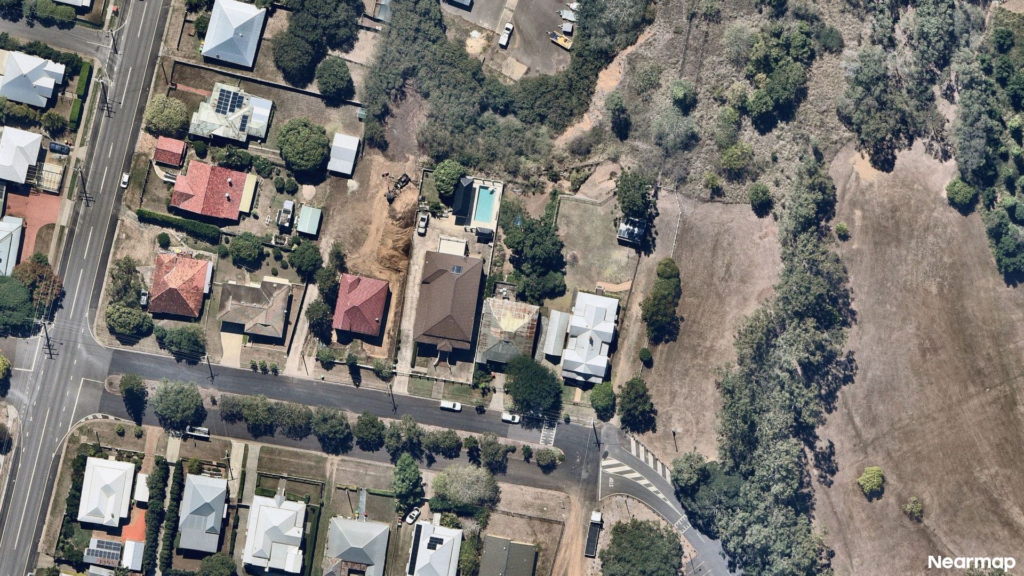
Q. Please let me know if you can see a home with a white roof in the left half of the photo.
Yes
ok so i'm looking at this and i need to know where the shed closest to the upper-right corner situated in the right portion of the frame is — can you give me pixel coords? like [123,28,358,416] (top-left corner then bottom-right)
[617,216,648,244]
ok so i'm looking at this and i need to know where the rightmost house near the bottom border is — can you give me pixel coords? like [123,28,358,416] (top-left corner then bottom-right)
[478,534,536,576]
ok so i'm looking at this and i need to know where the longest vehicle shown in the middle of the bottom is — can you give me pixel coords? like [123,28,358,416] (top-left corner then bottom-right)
[584,511,601,556]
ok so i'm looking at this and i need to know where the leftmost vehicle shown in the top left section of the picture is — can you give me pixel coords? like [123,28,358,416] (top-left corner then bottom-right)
[48,142,71,154]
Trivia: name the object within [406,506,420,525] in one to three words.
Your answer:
car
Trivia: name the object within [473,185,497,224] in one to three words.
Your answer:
swimming pool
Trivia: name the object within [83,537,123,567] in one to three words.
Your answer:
shed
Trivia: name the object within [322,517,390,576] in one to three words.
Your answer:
house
